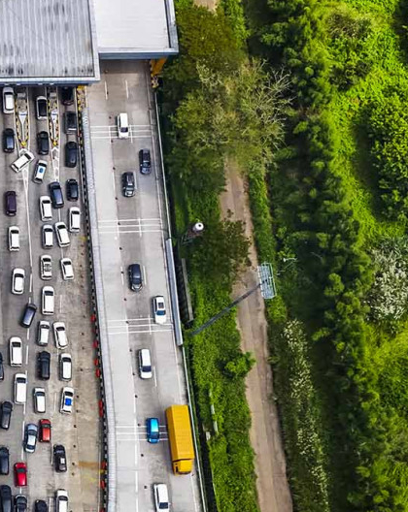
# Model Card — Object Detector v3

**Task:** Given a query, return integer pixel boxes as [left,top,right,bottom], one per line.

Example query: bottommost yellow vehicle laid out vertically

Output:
[162,404,192,475]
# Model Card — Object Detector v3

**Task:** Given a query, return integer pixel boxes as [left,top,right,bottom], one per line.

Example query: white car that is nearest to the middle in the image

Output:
[151,295,167,324]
